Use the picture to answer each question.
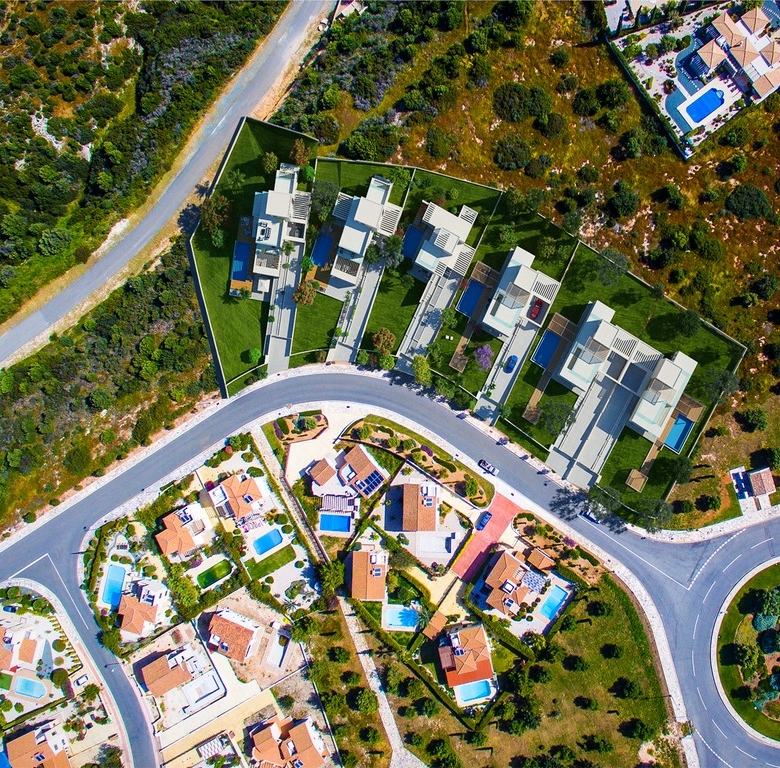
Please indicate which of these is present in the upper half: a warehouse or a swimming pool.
swimming pool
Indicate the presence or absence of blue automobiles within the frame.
Yes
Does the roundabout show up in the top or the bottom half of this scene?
bottom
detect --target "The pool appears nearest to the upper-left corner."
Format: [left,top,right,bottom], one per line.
[230,240,251,282]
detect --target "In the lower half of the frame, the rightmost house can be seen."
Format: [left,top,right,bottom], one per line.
[727,464,778,496]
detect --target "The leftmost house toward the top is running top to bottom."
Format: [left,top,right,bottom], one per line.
[252,162,313,293]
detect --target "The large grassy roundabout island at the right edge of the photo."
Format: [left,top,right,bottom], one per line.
[711,557,780,746]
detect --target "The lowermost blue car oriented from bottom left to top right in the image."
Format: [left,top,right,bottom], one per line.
[475,509,493,531]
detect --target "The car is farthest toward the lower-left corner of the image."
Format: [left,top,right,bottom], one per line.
[71,673,91,687]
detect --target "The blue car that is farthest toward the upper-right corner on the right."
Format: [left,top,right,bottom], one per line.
[503,354,518,374]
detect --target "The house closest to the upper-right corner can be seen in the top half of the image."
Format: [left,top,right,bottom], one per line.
[685,7,780,101]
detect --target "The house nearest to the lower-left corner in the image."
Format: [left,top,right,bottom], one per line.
[7,714,77,768]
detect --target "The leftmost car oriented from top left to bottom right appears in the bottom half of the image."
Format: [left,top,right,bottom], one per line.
[477,459,500,477]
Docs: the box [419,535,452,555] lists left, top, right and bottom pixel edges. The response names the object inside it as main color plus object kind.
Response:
white swimming pool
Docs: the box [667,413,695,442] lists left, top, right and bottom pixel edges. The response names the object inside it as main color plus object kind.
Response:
blue swimming pool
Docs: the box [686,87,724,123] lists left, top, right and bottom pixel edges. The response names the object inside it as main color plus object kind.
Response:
blue swimming pool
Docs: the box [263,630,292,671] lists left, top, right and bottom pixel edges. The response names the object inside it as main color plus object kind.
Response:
white swimming pool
